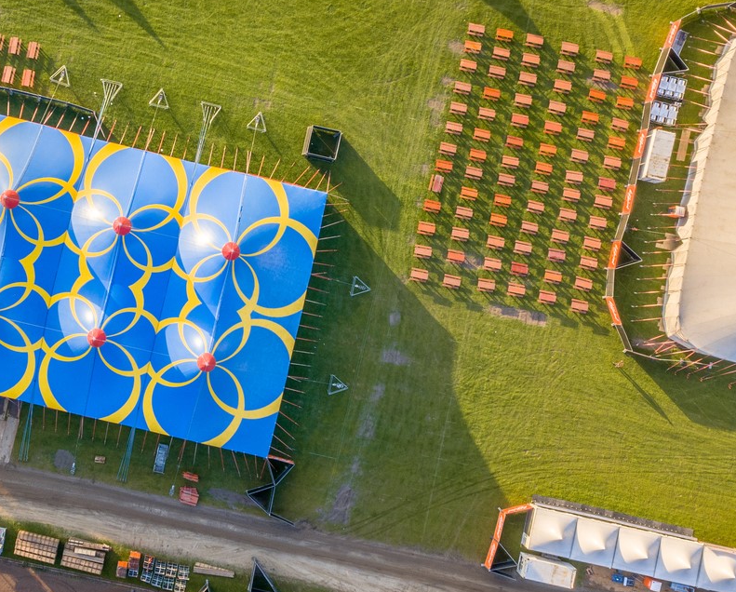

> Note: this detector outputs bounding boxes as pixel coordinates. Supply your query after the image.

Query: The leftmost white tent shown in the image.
[519,487,579,559]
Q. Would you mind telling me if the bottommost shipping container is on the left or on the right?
right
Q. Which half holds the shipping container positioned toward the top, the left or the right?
right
